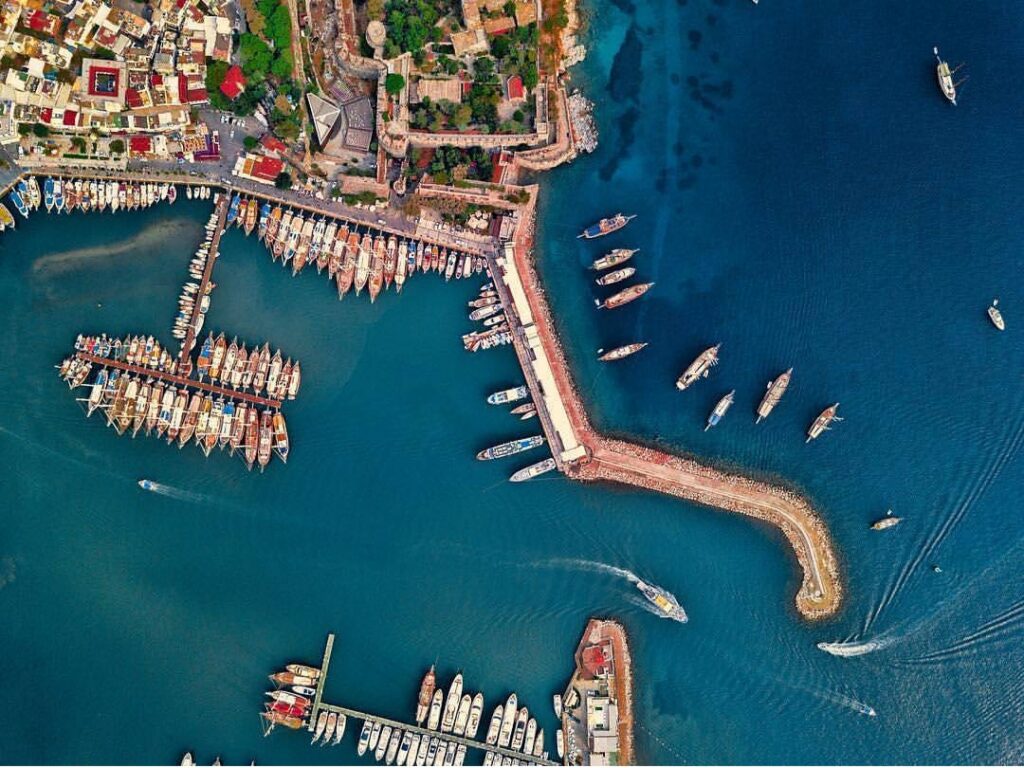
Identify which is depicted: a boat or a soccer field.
boat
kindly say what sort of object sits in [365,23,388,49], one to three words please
building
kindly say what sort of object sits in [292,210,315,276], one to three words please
boat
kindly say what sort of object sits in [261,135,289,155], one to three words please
house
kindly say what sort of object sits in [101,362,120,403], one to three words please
boat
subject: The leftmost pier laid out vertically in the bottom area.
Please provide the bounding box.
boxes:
[309,633,335,730]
